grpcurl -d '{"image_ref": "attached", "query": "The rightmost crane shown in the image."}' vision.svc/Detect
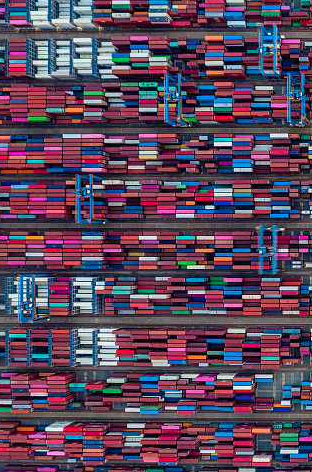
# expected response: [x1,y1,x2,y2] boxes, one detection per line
[282,73,311,126]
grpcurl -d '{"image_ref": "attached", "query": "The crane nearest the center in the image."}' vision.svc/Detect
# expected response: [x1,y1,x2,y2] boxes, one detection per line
[69,173,109,222]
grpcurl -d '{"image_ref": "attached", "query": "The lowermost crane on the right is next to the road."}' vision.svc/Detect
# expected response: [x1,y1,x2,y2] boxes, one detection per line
[253,227,284,275]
